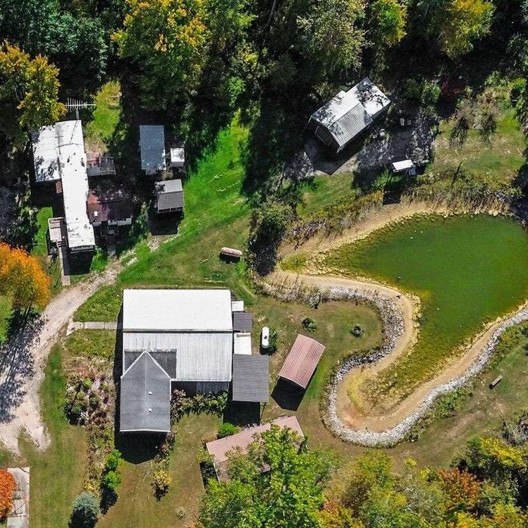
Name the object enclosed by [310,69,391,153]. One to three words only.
building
